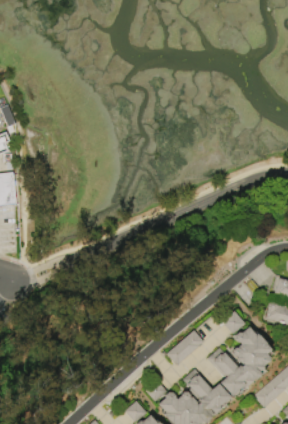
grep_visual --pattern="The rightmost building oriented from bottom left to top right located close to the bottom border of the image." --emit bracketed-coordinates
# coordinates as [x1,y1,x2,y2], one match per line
[255,366,288,406]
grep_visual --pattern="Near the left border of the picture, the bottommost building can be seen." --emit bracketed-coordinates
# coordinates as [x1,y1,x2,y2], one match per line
[0,172,16,206]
